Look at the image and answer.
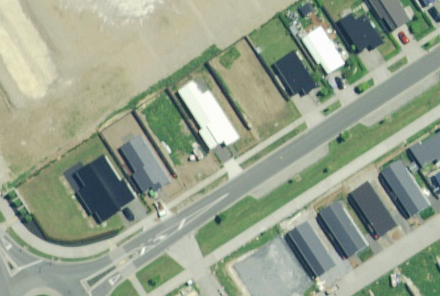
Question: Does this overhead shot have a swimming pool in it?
No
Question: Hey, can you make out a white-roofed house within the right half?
Yes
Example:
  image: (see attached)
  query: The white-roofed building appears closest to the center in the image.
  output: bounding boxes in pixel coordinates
[178,80,240,152]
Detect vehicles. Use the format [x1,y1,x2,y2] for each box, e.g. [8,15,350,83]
[398,30,410,45]
[123,206,135,222]
[335,75,344,90]
[429,6,440,22]
[155,202,165,218]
